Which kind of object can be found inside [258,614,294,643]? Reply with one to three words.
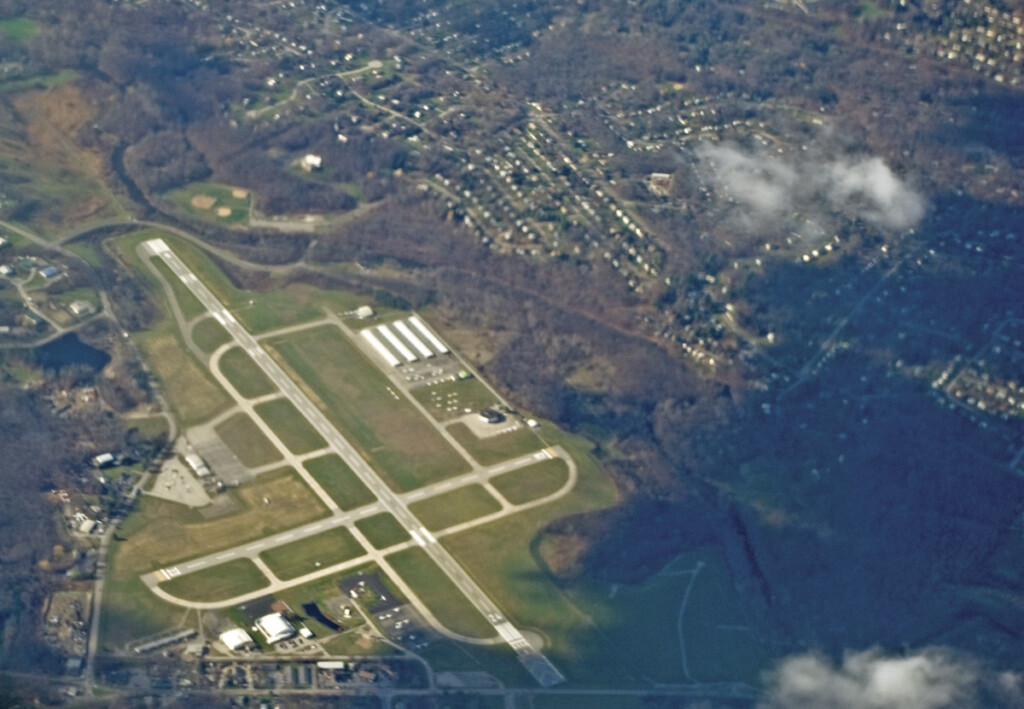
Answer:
hangar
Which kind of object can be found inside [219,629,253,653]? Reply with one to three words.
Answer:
hangar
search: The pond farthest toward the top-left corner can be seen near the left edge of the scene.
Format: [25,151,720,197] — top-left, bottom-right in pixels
[33,332,112,376]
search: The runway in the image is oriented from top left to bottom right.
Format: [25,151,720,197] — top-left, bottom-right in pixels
[147,238,562,684]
